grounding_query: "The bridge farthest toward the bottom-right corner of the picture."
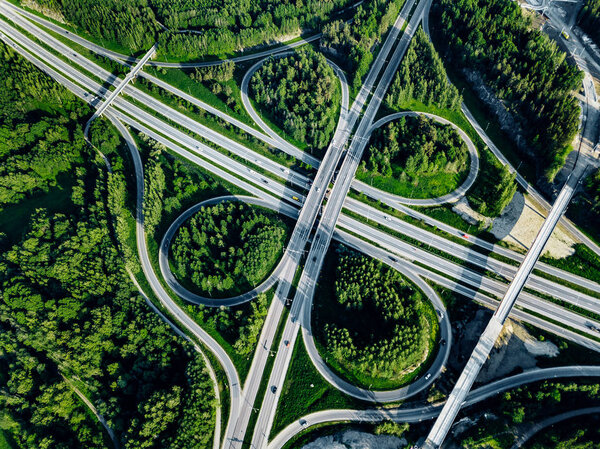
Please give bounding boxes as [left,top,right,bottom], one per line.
[420,176,579,448]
